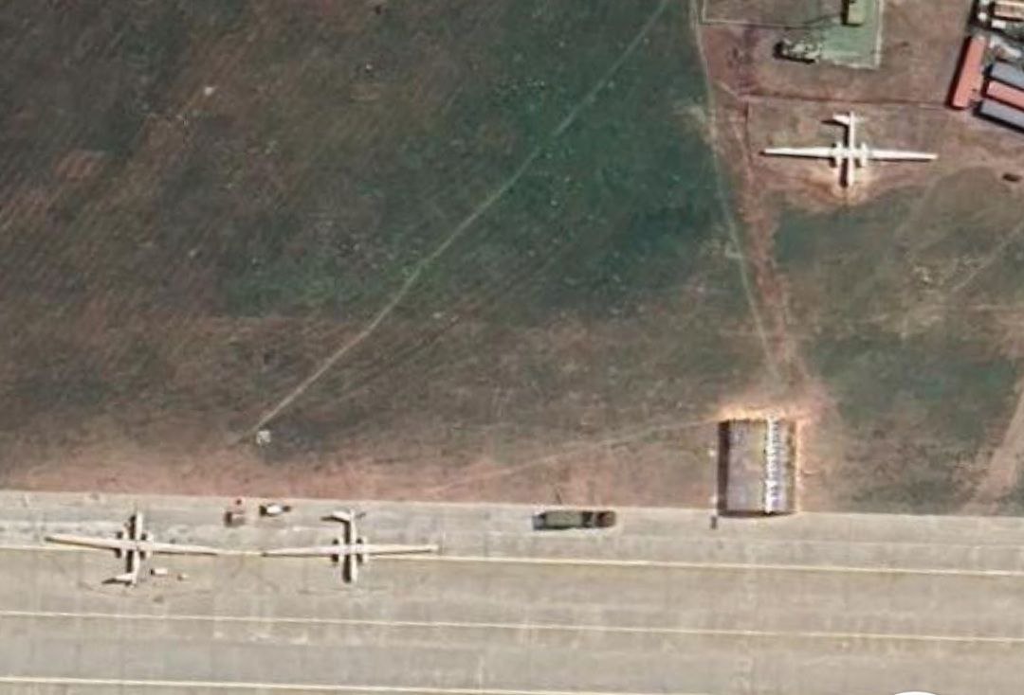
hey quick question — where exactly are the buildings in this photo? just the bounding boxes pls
[994,0,1024,17]
[728,419,797,513]
[954,35,988,108]
[850,0,866,23]
[991,62,1024,85]
[987,80,1024,104]
[980,99,1024,128]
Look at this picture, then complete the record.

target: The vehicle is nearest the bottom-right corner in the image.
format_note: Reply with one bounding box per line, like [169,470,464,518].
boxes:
[534,510,618,529]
